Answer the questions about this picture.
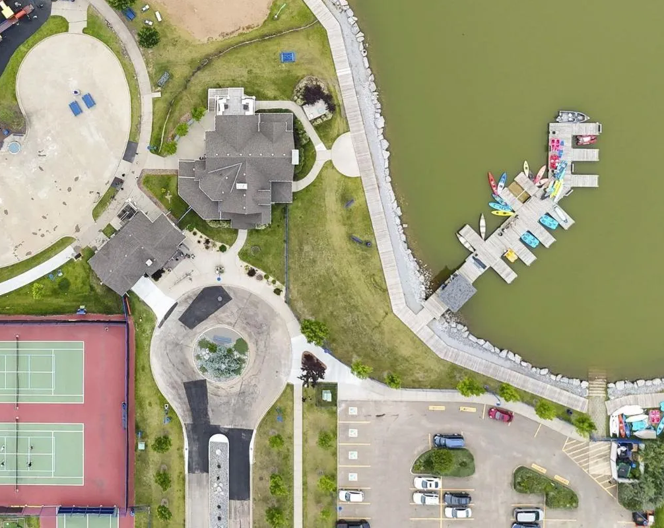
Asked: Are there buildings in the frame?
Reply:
Yes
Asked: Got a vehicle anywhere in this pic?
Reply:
Yes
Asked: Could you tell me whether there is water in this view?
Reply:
Yes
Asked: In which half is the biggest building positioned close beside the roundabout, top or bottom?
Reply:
top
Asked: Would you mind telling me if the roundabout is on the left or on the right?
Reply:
left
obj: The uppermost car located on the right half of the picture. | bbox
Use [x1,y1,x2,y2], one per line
[486,406,514,423]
